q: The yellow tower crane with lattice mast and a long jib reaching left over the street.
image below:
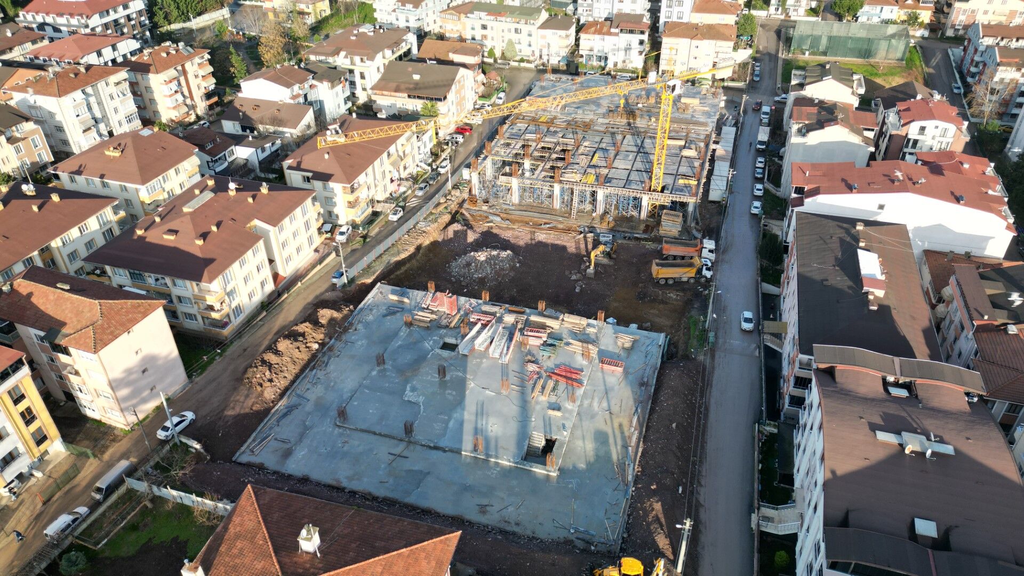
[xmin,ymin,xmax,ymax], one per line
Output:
[314,48,749,217]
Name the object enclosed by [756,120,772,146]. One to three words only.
vehicle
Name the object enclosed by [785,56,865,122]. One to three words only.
house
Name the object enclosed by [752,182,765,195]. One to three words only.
vehicle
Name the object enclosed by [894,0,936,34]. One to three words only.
house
